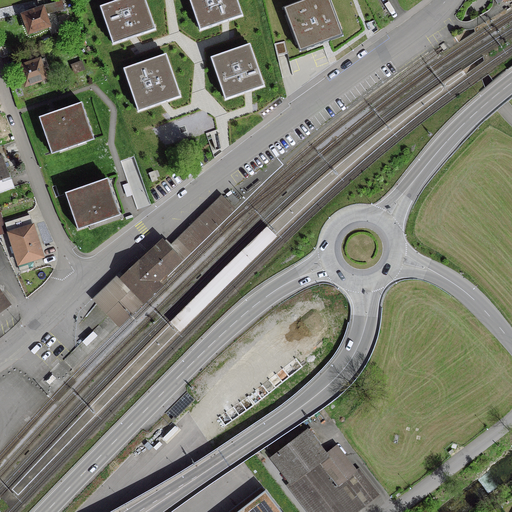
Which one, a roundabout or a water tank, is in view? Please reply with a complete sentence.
The one in the frame is a roundabout.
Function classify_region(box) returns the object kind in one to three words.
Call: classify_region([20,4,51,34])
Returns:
house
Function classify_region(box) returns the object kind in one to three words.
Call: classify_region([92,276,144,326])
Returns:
shed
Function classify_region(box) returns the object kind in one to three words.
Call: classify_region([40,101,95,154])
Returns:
building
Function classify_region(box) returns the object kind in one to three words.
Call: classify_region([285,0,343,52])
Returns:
building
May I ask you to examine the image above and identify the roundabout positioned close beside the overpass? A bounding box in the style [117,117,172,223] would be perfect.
[294,184,431,316]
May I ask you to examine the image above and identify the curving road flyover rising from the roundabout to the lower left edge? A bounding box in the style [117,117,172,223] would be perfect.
[114,312,381,512]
